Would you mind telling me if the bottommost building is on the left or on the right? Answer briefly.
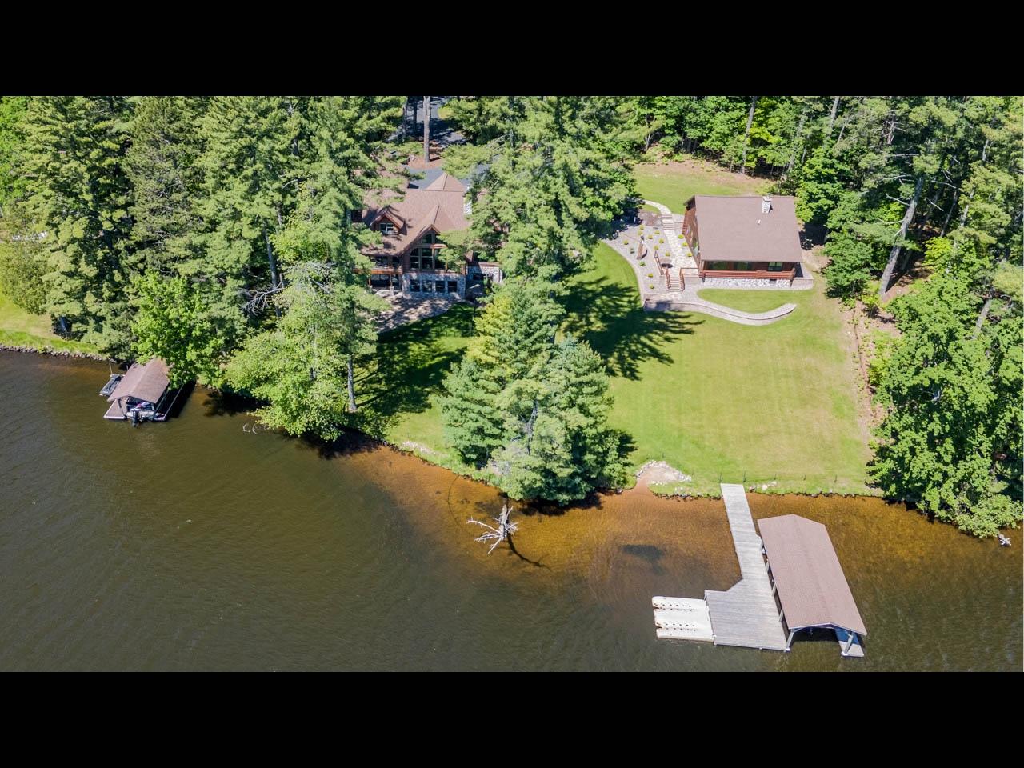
right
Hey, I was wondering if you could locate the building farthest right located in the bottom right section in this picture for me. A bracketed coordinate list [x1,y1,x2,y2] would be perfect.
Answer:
[755,510,867,663]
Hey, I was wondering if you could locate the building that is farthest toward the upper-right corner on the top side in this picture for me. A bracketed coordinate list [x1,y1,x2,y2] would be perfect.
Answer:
[680,187,804,285]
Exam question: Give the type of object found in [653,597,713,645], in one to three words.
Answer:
pier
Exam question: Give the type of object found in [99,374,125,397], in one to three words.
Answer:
boat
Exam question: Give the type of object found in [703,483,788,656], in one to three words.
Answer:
pier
